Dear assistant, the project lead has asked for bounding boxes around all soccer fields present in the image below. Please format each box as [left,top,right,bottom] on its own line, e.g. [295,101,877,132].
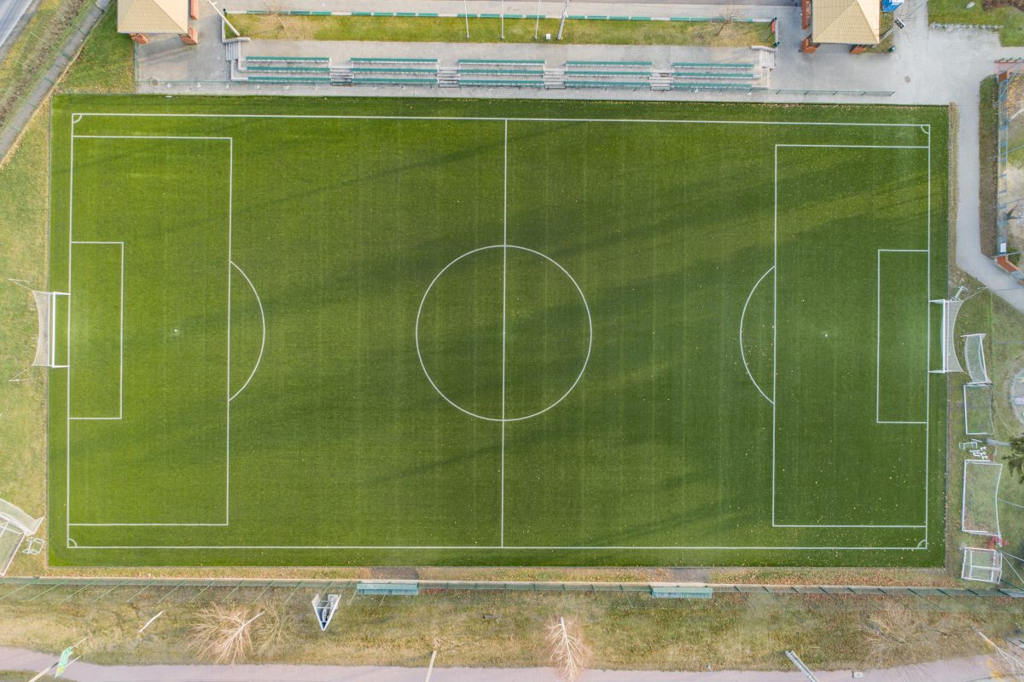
[48,93,950,568]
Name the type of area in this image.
sports ground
